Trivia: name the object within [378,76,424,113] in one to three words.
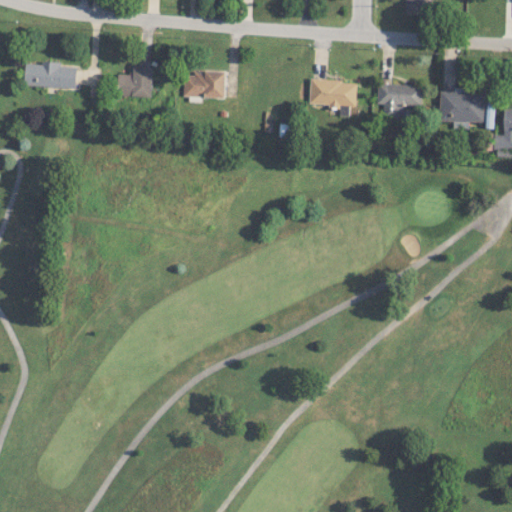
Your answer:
house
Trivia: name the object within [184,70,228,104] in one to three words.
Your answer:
house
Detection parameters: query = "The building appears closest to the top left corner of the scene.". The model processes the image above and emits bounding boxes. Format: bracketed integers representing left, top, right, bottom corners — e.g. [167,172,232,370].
[25,62,80,94]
